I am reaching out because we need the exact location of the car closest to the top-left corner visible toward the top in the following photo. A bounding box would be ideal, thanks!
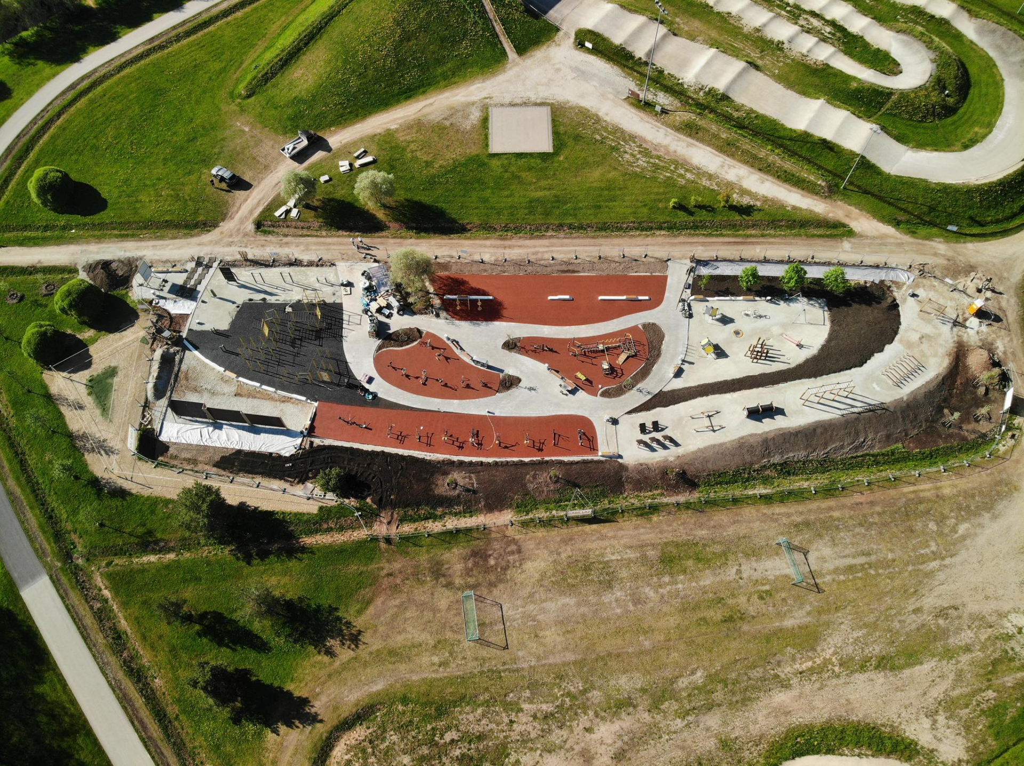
[210,169,240,188]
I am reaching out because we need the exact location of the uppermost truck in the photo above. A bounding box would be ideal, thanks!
[282,130,320,159]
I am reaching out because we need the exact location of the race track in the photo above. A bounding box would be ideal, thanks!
[548,0,1024,178]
